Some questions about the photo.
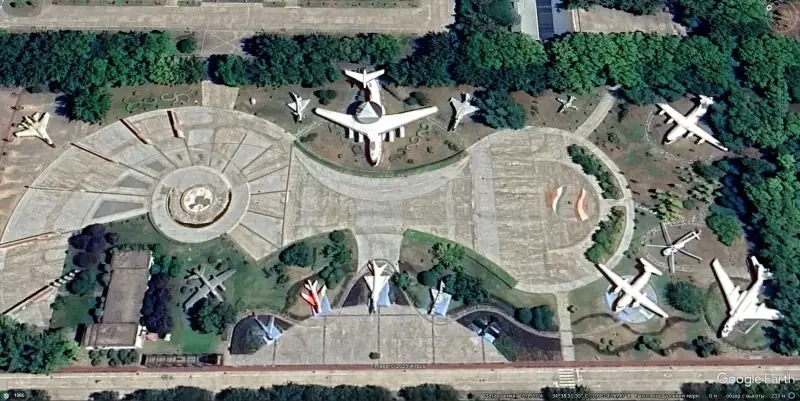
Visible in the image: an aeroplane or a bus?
aeroplane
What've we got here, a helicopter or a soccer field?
helicopter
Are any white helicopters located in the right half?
Yes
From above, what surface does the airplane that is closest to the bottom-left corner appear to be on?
grass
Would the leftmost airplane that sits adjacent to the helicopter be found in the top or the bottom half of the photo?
bottom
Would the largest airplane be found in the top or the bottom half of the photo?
top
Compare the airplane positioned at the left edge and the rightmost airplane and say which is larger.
the rightmost airplane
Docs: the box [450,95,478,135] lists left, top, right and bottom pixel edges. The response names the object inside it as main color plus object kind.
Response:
white airplane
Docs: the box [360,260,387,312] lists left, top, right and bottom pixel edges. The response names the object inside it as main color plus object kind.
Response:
white airplane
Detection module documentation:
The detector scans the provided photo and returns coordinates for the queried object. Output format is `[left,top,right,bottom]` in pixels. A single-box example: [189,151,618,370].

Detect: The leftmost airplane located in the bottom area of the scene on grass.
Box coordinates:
[188,266,236,311]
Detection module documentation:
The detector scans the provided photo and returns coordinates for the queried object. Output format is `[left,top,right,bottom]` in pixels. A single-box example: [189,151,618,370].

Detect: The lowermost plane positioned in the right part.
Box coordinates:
[477,316,499,340]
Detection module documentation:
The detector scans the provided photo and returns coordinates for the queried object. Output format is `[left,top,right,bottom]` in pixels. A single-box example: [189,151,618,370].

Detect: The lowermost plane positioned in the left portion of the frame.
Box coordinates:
[252,312,274,338]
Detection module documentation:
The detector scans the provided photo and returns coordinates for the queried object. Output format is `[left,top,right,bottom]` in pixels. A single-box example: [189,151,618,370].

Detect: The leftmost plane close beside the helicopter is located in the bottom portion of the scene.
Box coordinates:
[598,257,664,320]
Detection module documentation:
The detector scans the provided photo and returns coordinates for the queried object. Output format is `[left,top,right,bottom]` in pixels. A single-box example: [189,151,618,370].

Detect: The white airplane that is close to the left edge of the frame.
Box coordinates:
[16,109,56,149]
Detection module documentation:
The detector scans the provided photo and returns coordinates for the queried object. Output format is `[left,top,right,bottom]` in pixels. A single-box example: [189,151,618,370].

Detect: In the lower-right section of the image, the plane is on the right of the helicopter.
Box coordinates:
[712,256,786,337]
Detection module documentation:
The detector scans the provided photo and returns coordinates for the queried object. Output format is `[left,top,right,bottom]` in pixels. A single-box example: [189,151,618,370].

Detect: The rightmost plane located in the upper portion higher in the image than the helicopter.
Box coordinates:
[652,89,720,152]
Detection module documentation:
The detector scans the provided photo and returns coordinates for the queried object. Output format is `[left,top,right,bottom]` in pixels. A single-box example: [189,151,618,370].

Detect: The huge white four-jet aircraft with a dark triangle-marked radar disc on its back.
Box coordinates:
[310,68,433,166]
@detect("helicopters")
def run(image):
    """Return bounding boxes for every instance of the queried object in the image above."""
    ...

[645,222,700,274]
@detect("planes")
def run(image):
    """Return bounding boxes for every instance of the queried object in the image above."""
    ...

[477,316,499,340]
[16,109,56,149]
[252,312,274,338]
[301,281,325,313]
[310,68,433,166]
[285,92,309,124]
[360,260,387,312]
[430,280,450,314]
[559,95,577,113]
[188,266,236,311]
[450,95,478,135]
[652,89,720,152]
[712,256,786,337]
[598,257,664,320]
